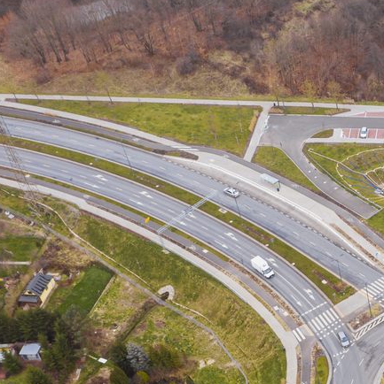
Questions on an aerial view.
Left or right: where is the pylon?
left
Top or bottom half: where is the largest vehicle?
bottom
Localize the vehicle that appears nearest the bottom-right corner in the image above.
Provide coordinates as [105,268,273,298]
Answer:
[335,331,350,347]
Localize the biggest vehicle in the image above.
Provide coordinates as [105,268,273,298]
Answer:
[250,256,272,278]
